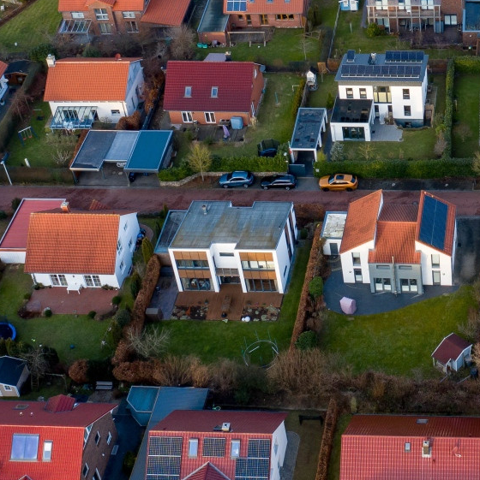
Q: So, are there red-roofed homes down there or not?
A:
Yes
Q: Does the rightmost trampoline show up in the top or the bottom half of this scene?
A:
top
